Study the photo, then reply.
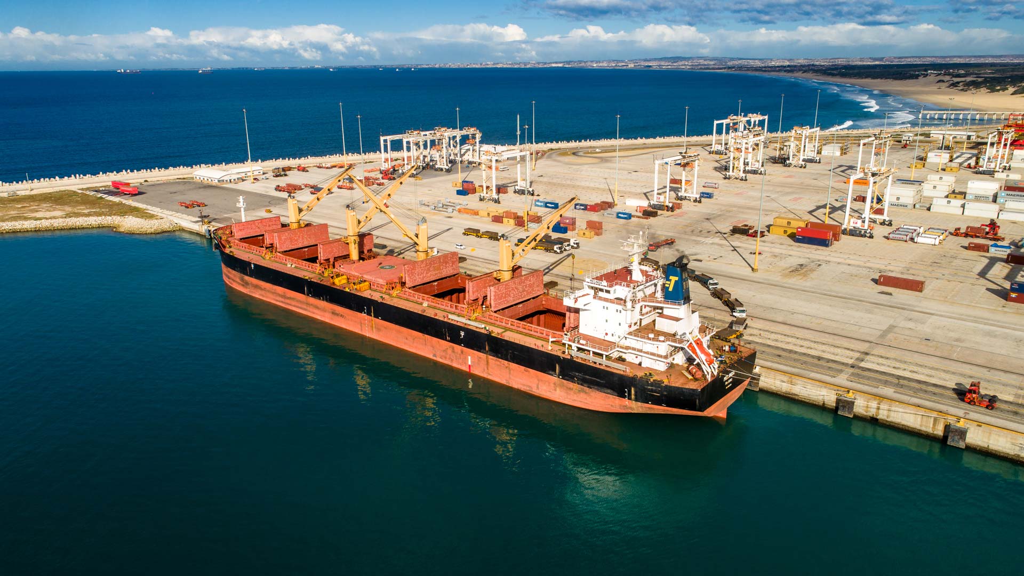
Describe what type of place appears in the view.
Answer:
port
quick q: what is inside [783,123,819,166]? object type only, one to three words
container crane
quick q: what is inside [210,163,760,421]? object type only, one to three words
ship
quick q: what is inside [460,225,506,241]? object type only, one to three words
vehicle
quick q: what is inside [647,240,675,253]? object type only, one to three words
vehicle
